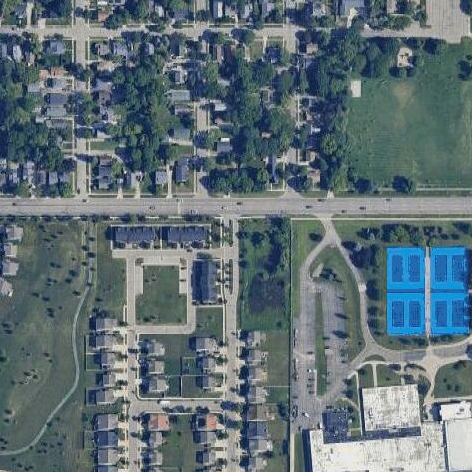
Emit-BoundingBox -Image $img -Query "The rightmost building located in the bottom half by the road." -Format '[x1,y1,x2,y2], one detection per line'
[310,383,472,472]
